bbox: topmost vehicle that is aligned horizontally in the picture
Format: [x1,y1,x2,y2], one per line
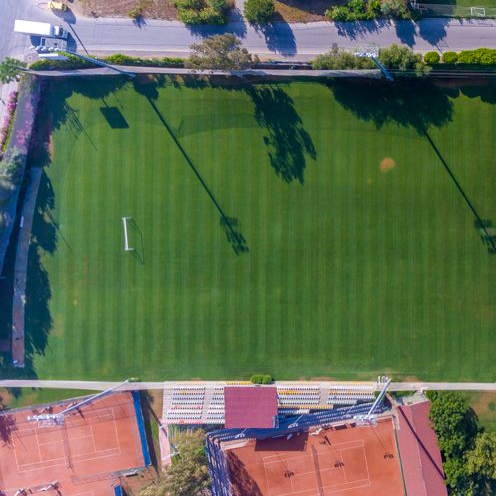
[48,0,73,13]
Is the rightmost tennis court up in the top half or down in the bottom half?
bottom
